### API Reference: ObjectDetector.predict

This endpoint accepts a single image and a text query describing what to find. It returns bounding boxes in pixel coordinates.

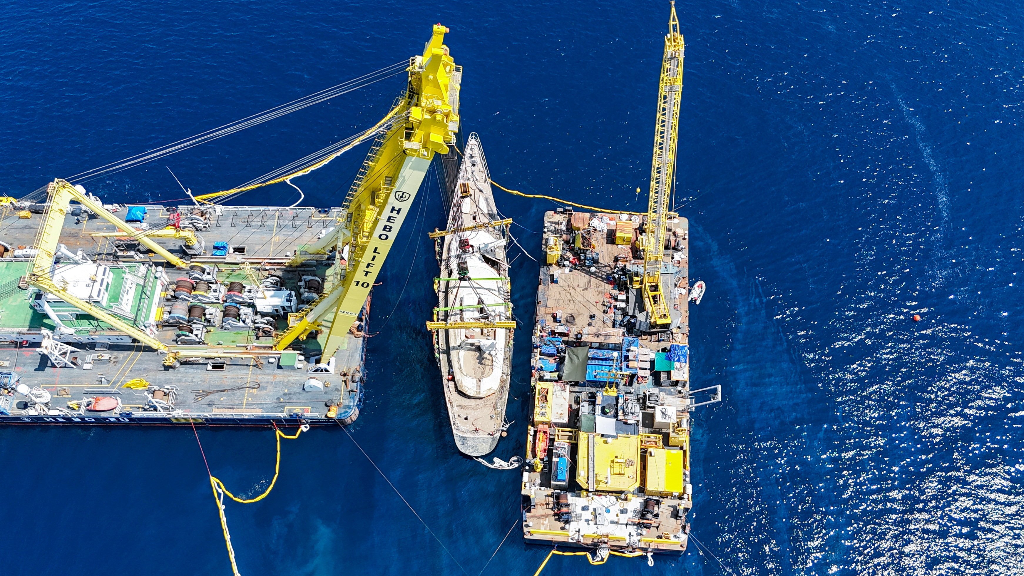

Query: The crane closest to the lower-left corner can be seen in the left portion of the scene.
[156,349,264,369]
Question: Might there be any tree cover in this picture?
No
